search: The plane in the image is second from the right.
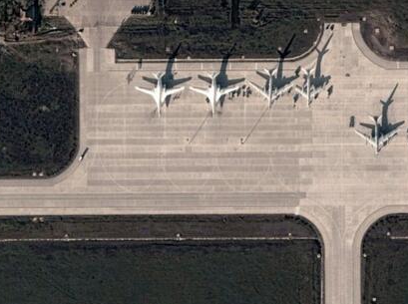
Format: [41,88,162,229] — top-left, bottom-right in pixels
[294,66,324,108]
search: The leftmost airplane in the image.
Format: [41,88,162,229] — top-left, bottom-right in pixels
[134,70,184,117]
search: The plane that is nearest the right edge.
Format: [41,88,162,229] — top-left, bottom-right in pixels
[356,113,399,154]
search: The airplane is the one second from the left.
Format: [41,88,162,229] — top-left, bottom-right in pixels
[190,71,239,117]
